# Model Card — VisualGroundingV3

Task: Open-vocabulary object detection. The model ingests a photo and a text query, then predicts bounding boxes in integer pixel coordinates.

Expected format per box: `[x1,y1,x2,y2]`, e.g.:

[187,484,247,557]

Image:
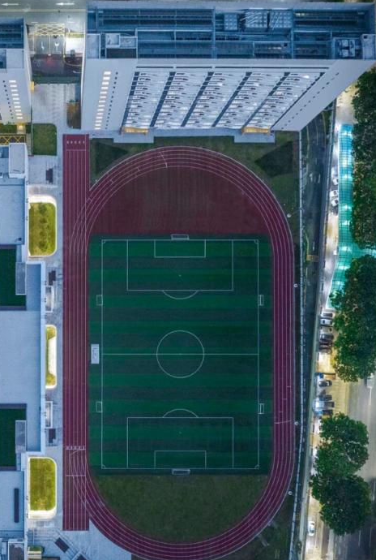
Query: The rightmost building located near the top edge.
[79,5,376,143]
